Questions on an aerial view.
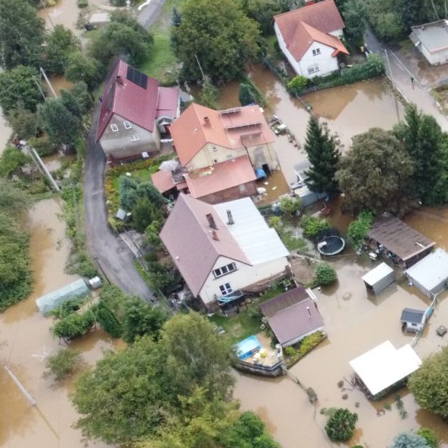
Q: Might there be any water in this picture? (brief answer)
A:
Yes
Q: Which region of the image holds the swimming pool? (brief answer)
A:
bottom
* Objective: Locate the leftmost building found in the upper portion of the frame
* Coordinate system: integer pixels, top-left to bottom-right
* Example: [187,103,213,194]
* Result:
[95,61,161,160]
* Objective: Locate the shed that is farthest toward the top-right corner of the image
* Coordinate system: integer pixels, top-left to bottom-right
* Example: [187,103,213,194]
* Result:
[411,19,448,66]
